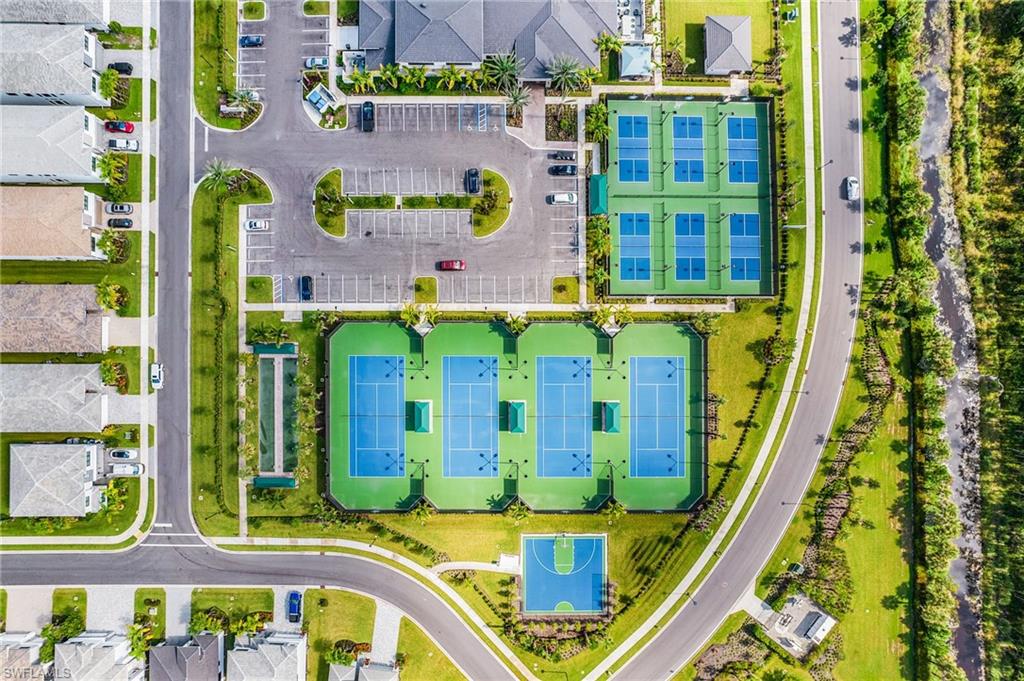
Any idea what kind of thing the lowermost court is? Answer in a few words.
basketball court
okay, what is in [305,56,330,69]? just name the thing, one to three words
vehicle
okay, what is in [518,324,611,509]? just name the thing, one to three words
tennis court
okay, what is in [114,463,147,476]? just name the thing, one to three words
vehicle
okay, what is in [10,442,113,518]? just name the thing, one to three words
house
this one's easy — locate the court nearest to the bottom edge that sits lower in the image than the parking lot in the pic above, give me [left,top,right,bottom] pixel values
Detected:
[521,534,607,614]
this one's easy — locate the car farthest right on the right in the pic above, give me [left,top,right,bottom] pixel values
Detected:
[845,175,861,202]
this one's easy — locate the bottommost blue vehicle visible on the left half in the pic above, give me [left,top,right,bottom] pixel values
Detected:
[288,590,301,621]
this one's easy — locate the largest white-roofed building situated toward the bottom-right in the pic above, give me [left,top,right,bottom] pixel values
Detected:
[806,610,837,646]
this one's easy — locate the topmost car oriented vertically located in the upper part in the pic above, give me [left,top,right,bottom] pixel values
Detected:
[361,103,374,131]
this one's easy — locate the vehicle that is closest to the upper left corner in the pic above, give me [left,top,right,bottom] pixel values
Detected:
[108,61,135,75]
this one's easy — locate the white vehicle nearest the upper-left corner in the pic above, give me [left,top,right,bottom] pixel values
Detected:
[109,138,140,151]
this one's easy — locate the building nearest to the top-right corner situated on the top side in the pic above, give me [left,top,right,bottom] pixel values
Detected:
[704,16,751,78]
